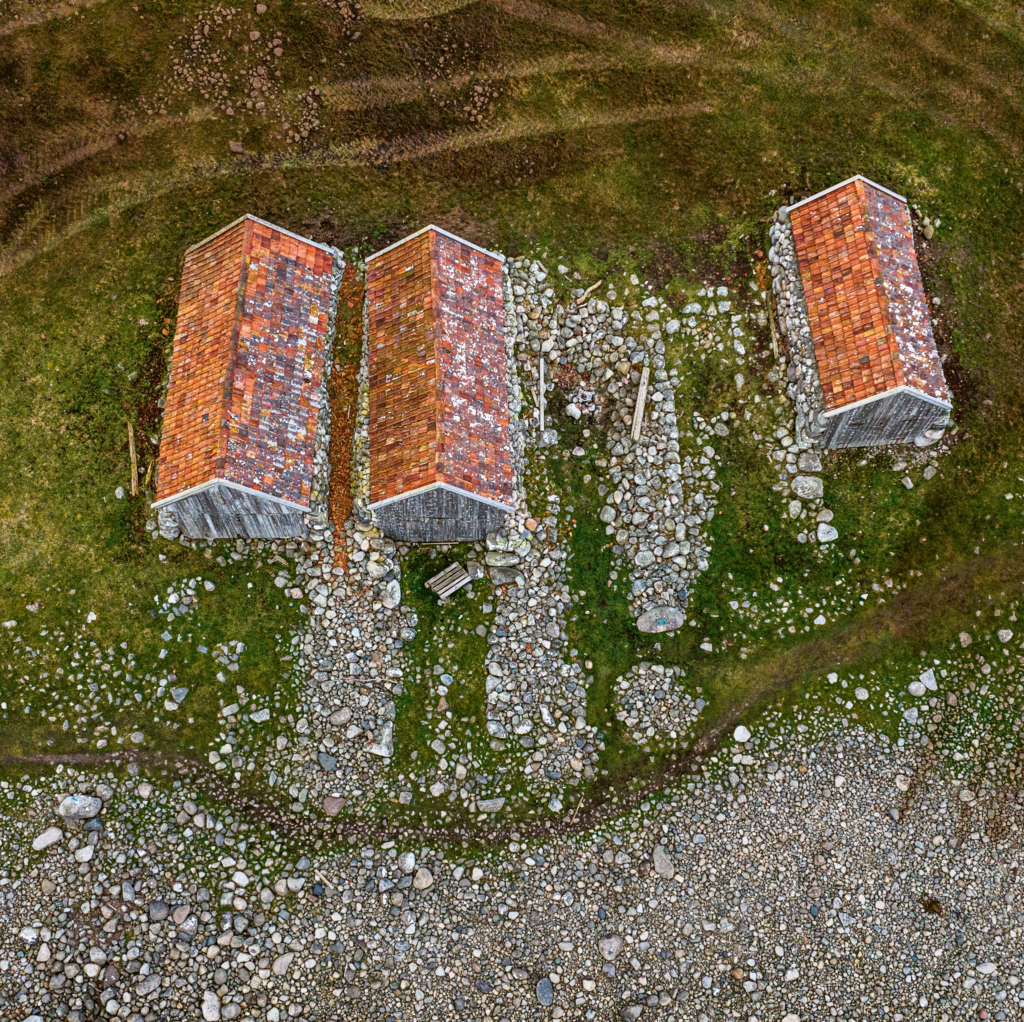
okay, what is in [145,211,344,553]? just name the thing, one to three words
building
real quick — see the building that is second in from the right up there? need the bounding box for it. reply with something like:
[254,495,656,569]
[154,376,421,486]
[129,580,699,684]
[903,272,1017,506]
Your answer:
[355,221,529,551]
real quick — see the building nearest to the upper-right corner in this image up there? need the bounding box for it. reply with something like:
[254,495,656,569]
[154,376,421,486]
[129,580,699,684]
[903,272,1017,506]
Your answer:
[768,172,960,461]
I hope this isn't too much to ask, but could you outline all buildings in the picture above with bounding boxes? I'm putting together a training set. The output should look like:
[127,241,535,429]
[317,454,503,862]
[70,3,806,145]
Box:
[355,221,529,551]
[145,211,344,553]
[768,172,960,461]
